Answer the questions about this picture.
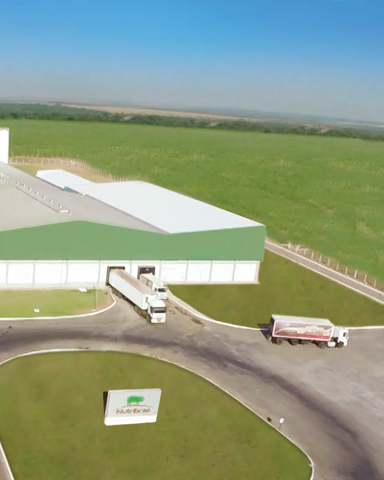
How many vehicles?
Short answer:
3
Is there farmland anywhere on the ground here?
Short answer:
Yes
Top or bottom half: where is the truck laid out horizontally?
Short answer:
bottom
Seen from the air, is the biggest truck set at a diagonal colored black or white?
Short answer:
white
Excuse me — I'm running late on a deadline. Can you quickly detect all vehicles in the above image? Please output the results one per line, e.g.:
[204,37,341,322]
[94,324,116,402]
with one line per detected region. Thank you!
[111,266,173,319]
[270,313,352,348]
[141,270,179,301]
